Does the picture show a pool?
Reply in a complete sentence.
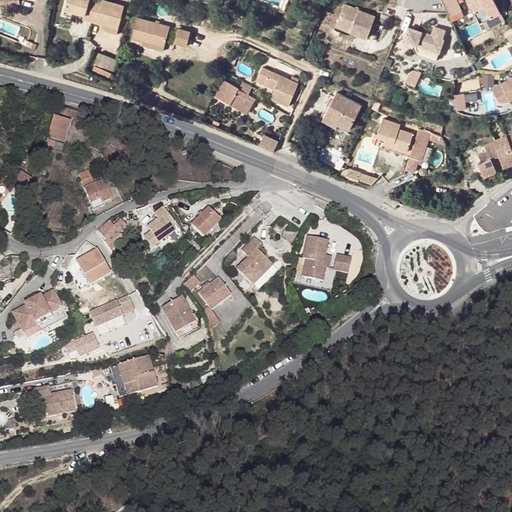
Yes, there's a pool here.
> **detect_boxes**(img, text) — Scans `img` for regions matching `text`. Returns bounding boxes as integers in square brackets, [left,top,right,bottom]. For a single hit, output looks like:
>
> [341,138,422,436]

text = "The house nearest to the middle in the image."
[238,236,279,288]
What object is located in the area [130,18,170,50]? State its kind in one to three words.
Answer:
house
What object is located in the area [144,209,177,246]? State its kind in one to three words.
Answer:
house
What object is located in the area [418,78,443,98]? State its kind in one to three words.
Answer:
swimming pool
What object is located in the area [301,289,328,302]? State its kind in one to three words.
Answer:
swimming pool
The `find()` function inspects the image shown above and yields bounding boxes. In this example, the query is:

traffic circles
[385,228,468,310]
